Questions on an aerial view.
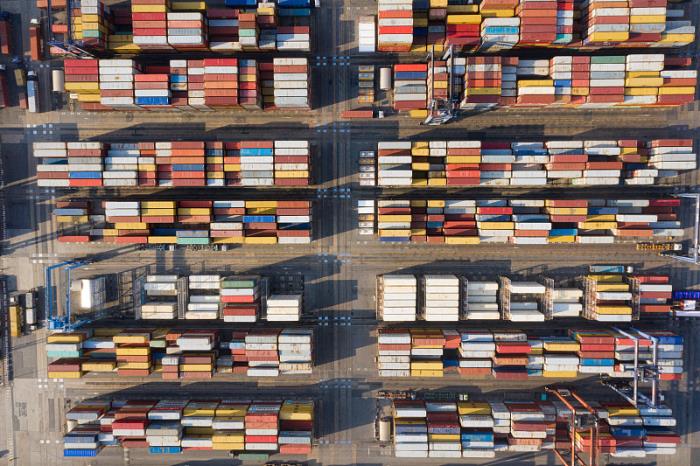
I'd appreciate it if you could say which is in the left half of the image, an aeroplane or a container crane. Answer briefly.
container crane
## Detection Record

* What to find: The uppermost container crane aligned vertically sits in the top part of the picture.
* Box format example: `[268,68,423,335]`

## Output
[419,45,457,128]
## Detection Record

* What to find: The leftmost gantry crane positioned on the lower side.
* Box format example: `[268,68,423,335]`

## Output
[44,258,102,336]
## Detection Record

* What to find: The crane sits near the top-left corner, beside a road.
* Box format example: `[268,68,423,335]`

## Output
[42,0,103,60]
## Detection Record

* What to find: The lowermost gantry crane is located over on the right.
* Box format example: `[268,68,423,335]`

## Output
[546,383,597,466]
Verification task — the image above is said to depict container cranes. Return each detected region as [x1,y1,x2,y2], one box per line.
[42,0,103,60]
[656,190,700,264]
[600,320,659,406]
[44,258,102,336]
[419,45,457,128]
[546,383,597,466]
